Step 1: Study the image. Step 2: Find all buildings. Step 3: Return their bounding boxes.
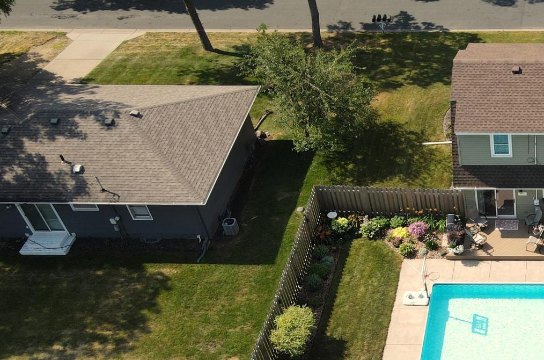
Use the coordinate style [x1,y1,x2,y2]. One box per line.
[0,84,266,261]
[422,43,544,219]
